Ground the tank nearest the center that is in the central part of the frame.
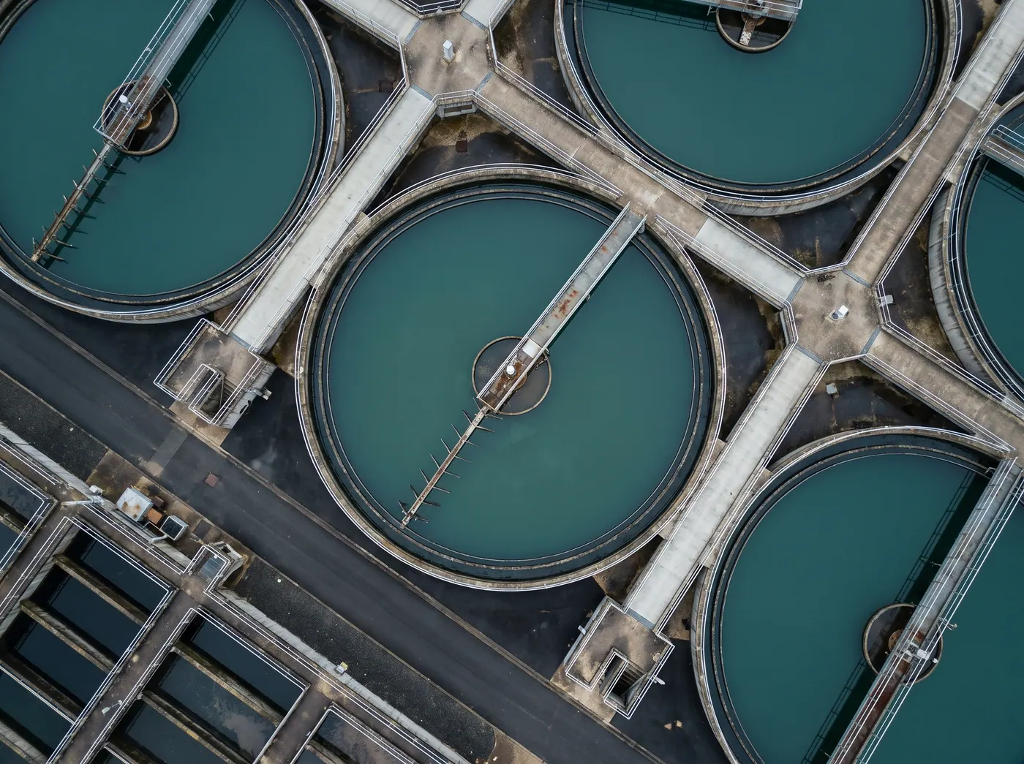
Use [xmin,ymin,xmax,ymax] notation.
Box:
[297,163,724,588]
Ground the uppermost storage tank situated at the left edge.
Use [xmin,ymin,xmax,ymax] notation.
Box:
[0,0,345,321]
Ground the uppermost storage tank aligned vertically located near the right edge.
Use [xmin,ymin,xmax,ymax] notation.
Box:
[929,89,1024,406]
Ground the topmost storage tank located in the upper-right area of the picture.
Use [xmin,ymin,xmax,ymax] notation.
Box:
[559,0,970,209]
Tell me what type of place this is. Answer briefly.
industrial area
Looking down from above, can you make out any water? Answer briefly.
Yes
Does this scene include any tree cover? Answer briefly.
No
